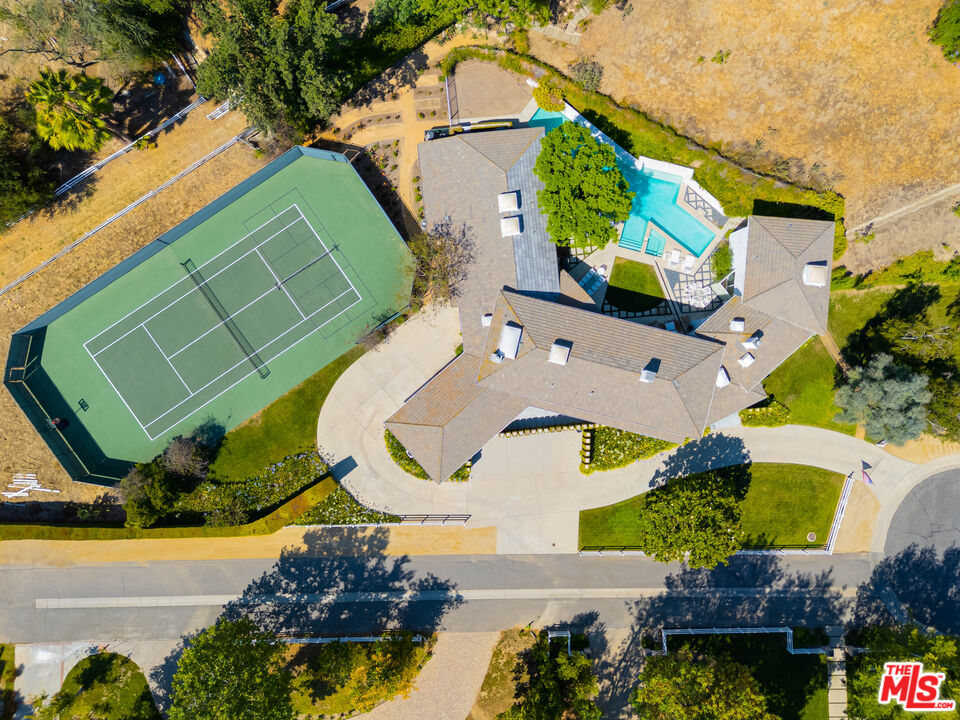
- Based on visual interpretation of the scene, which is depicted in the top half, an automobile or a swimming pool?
swimming pool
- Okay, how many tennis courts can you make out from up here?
one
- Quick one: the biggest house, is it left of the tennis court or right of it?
to the right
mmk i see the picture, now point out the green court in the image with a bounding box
[22,156,418,483]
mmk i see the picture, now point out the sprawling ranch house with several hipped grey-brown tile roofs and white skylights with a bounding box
[384,128,835,485]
